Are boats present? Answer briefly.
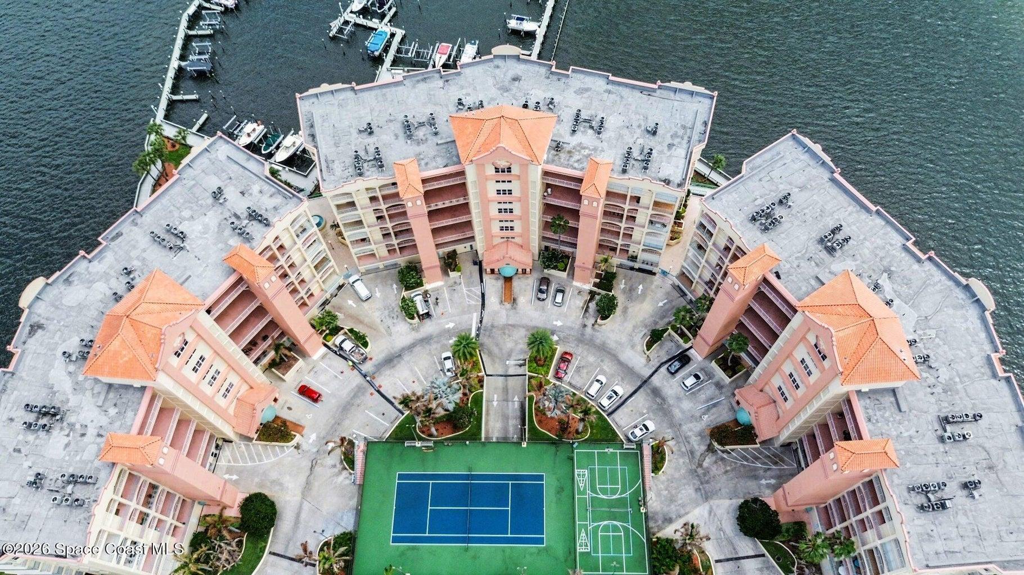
Yes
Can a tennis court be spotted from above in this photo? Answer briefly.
Yes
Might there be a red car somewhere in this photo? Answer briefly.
Yes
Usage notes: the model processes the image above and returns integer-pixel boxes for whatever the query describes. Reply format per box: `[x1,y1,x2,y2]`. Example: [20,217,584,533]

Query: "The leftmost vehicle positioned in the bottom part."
[297,385,324,404]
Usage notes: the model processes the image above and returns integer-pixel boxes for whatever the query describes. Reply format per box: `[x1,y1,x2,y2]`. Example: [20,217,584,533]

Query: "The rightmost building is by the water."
[670,128,1024,575]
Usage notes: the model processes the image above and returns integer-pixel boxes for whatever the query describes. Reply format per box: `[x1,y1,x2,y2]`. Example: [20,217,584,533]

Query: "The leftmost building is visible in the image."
[0,130,345,575]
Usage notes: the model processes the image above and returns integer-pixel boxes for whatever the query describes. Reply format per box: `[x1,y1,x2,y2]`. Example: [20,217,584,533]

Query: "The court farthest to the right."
[575,446,651,575]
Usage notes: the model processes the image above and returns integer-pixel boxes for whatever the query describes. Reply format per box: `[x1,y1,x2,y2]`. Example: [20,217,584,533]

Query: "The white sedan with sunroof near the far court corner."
[629,418,655,444]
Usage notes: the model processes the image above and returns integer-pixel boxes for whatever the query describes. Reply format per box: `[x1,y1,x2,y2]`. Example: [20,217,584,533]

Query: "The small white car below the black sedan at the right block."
[678,371,706,392]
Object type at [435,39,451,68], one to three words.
boat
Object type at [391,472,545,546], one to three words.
tennis court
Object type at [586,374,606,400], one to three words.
car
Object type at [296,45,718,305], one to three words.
building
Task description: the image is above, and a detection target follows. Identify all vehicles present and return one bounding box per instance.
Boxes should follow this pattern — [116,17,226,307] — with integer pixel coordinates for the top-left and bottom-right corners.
[666,353,693,376]
[586,374,606,400]
[297,385,324,404]
[337,335,366,362]
[348,275,372,301]
[442,352,456,378]
[678,371,706,392]
[411,292,430,317]
[599,385,623,412]
[555,351,573,379]
[536,277,550,301]
[629,418,655,444]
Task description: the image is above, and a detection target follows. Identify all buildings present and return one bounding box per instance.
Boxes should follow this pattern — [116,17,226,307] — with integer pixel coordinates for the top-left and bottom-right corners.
[0,130,345,575]
[296,45,718,305]
[670,128,1024,575]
